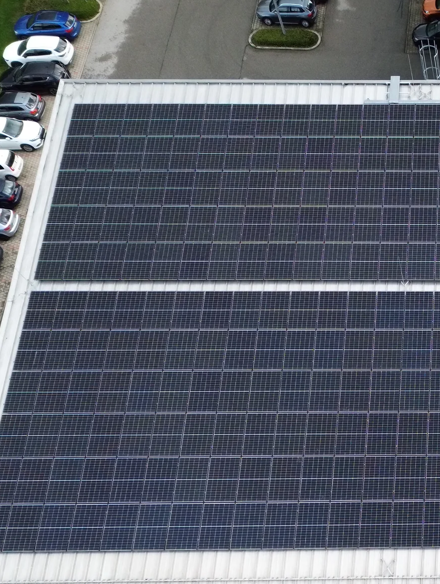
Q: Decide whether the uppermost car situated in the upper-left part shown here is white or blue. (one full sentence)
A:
From above, the uppermost car situated in the upper-left part appears blue.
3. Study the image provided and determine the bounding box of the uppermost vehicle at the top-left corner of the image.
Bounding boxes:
[12,2,85,39]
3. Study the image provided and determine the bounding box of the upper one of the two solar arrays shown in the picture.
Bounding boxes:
[34,103,440,281]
